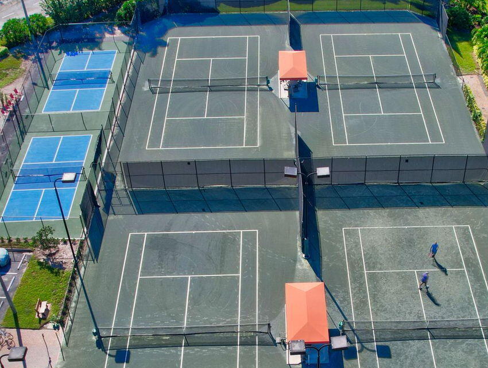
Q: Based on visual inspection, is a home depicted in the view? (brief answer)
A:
No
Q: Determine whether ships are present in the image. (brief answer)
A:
No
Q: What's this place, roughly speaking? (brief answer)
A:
sports ground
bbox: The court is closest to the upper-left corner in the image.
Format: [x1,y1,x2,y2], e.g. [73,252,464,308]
[26,47,134,124]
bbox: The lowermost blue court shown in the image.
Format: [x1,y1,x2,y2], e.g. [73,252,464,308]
[0,123,114,237]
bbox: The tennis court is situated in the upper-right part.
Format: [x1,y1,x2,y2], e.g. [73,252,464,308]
[288,9,488,186]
